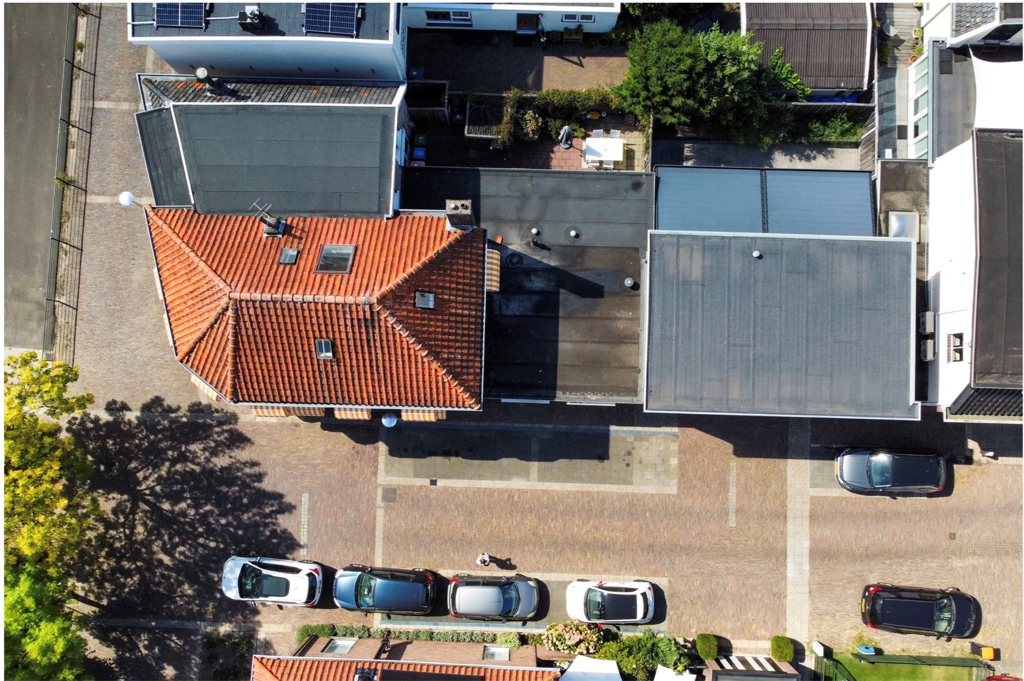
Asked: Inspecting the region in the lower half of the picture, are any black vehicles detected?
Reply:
Yes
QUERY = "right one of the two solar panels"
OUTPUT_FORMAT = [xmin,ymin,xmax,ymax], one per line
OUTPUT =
[302,0,361,38]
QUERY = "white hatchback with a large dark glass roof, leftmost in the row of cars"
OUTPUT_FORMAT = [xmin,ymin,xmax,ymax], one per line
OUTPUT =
[223,555,325,609]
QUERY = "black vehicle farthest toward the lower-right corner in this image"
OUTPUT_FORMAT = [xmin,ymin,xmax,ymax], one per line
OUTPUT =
[857,582,973,639]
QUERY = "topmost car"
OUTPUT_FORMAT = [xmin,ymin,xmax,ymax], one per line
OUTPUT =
[831,445,948,500]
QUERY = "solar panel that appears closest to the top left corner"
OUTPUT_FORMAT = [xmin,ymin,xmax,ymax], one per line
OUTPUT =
[153,0,210,31]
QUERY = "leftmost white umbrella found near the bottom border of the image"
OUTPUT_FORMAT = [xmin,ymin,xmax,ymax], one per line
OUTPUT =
[567,656,620,681]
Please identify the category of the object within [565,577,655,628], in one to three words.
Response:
car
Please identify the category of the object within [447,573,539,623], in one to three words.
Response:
car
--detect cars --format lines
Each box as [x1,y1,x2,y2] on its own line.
[447,573,539,623]
[831,445,948,500]
[857,582,973,639]
[565,577,655,628]
[332,562,438,616]
[223,555,325,609]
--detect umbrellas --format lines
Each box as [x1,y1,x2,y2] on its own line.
[656,665,695,681]
[559,136,572,153]
[567,656,620,681]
